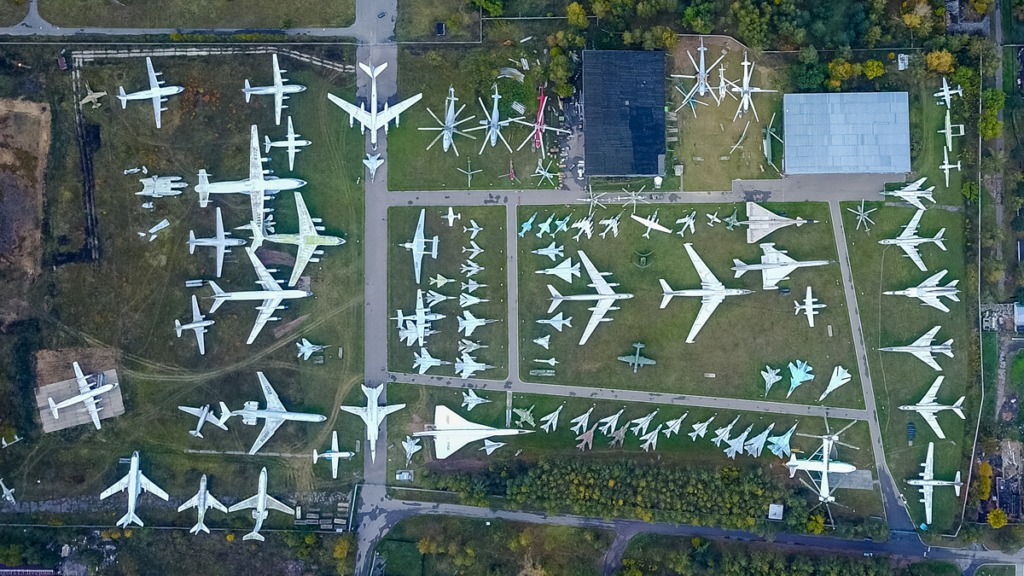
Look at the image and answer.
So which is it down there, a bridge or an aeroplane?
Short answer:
aeroplane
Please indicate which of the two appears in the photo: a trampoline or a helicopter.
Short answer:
helicopter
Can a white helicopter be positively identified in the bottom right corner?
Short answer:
Yes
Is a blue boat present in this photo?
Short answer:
No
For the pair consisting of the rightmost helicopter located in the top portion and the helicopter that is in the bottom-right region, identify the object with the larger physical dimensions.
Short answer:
the helicopter that is in the bottom-right region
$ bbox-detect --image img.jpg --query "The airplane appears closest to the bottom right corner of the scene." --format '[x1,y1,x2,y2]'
[905,442,966,524]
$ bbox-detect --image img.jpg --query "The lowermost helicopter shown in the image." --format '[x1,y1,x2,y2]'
[786,412,859,528]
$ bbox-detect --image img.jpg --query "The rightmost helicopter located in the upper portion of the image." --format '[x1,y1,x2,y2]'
[847,199,877,238]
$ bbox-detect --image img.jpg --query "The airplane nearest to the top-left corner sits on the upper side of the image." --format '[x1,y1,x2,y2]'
[78,86,108,110]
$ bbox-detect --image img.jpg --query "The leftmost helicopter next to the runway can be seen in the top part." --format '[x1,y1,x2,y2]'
[418,80,476,156]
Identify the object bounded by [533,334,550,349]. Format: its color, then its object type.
white airplane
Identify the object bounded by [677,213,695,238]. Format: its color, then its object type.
white airplane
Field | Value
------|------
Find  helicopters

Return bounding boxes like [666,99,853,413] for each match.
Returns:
[724,44,778,122]
[762,113,785,177]
[532,157,554,185]
[709,59,740,104]
[457,155,482,187]
[463,77,525,154]
[498,158,521,183]
[847,199,877,238]
[786,412,859,528]
[418,80,476,156]
[508,85,571,158]
[577,185,614,215]
[671,36,725,106]
[730,121,749,154]
[613,186,650,213]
